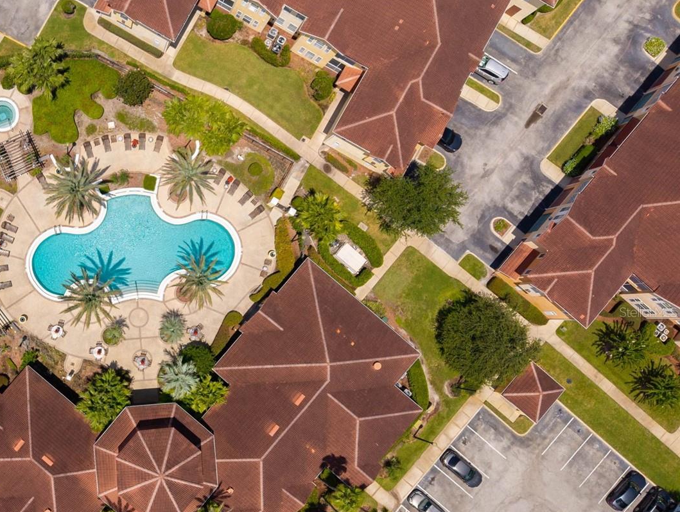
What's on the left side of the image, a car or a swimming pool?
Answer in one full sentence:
Looking on the left side of the image, you will find a swimming pool.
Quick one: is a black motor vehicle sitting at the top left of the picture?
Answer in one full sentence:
No, there is no black motor vehicle at the top left of the picture.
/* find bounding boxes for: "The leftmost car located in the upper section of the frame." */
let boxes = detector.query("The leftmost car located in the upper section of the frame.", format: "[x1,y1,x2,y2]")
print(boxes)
[432,125,472,158]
